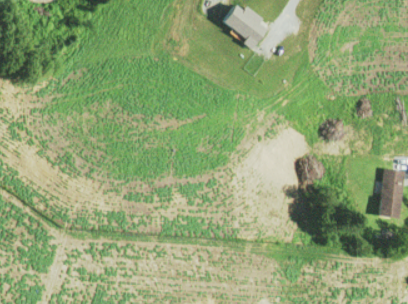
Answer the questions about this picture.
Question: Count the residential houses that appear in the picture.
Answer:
2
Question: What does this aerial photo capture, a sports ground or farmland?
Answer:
farmland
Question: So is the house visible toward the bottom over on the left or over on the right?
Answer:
right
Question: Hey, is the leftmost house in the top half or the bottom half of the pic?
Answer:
top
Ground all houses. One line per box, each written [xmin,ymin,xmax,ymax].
[223,4,269,53]
[372,168,406,220]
